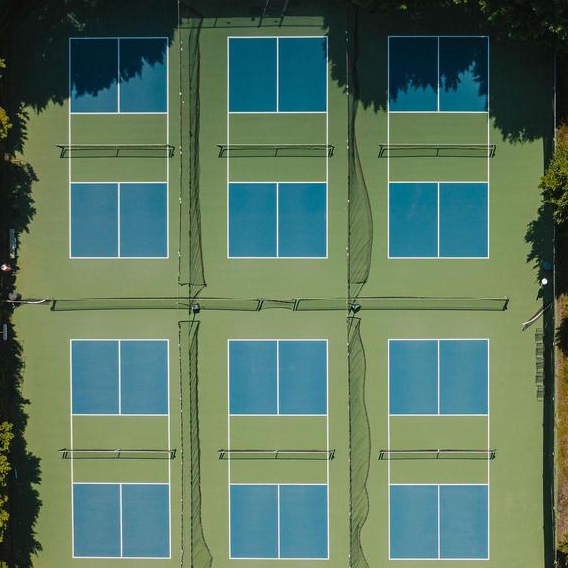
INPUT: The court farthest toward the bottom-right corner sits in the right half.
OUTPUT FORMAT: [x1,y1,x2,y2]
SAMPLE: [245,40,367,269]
[388,339,490,560]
